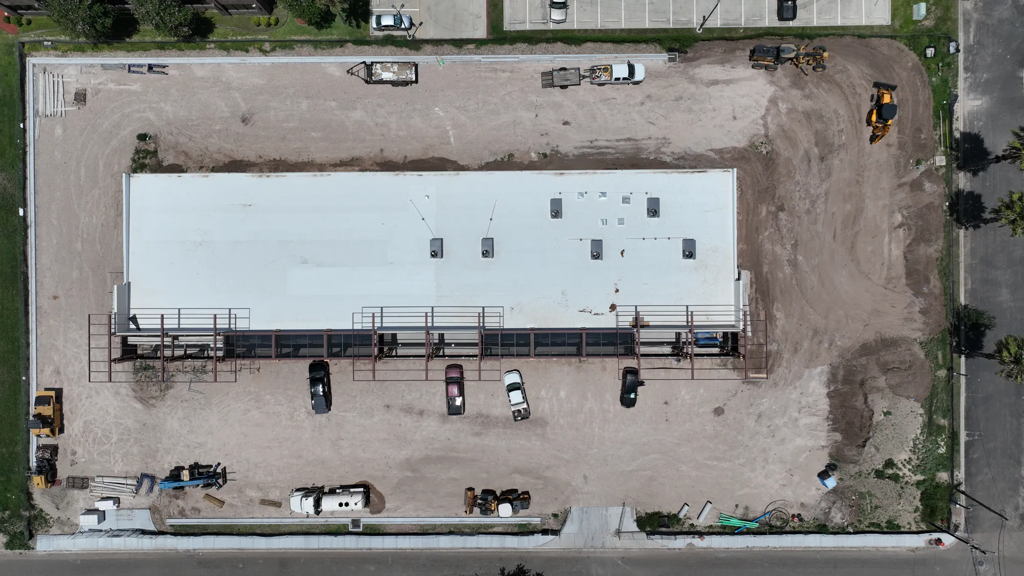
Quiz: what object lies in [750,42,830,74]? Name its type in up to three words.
work vehicle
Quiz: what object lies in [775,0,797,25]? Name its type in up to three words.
truck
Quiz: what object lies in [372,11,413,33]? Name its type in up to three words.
car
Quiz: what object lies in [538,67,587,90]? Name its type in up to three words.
trailer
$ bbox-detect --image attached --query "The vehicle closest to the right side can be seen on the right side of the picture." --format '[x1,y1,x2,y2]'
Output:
[864,79,900,140]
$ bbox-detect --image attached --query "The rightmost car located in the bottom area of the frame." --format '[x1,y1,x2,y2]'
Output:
[619,366,645,408]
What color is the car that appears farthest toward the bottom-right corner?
black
